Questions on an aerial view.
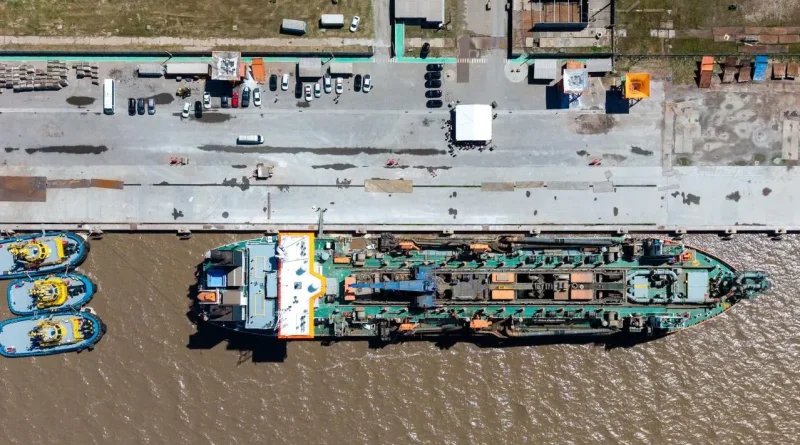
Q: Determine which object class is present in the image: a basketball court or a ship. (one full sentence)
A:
It is a ship that can be seen here.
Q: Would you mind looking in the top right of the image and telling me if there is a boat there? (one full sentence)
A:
No, looking in the top right of the image, there is no boat.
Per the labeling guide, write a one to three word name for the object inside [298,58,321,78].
shed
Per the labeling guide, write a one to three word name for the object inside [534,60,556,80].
shed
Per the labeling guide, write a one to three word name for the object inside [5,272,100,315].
boat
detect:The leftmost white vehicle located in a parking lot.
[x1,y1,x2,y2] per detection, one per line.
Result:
[102,78,115,114]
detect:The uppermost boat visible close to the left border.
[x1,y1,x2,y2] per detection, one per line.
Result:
[0,233,94,277]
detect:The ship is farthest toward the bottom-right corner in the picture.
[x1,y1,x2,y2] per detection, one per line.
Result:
[198,232,771,340]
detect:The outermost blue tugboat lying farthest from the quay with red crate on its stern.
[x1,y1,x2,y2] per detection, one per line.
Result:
[0,312,108,355]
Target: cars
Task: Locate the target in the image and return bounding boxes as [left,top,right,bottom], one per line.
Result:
[269,75,277,91]
[426,64,441,71]
[221,95,228,109]
[426,100,441,107]
[204,93,211,108]
[231,94,238,108]
[253,89,261,105]
[363,75,370,92]
[305,85,312,101]
[281,74,288,90]
[426,90,441,98]
[426,81,441,87]
[420,42,429,59]
[350,16,359,31]
[183,102,191,118]
[424,73,441,80]
[314,84,320,97]
[336,77,343,94]
[194,101,202,118]
[128,98,137,115]
[324,75,331,91]
[138,98,145,114]
[295,82,302,98]
[148,98,155,114]
[354,75,362,91]
[242,87,250,107]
